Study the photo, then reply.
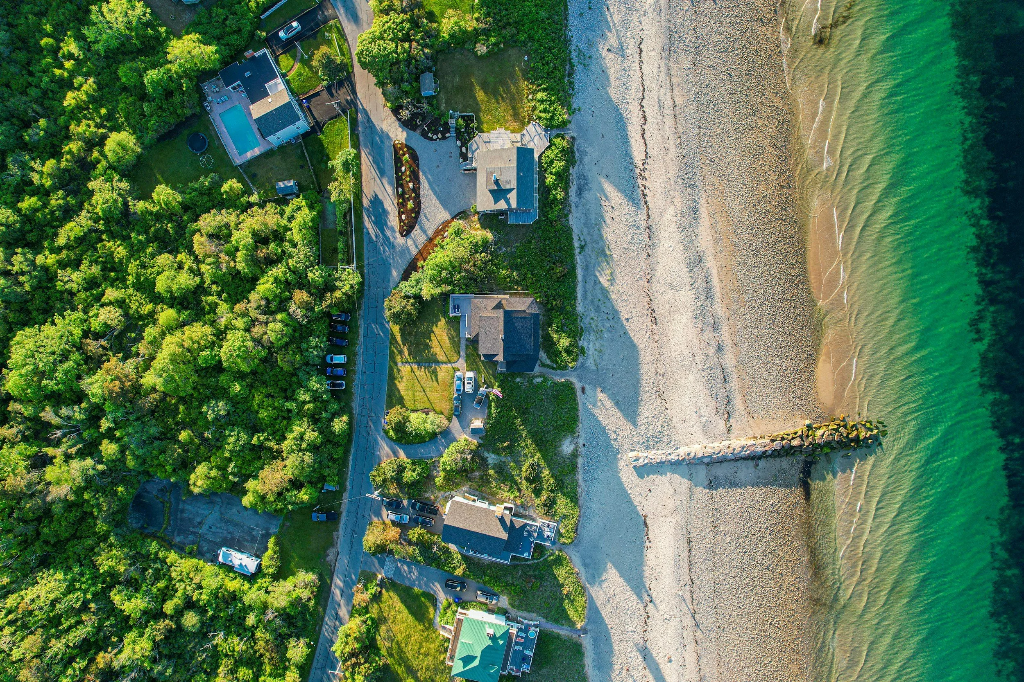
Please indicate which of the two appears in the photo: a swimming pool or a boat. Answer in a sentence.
I can see a swimming pool in this picture.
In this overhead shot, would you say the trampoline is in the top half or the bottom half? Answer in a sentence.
You can find the trampoline in the top half.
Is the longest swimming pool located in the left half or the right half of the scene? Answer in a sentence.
It is on the left.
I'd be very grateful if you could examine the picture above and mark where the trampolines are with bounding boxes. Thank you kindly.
[187,131,207,151]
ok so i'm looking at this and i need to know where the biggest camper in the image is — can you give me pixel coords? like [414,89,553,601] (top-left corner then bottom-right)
[216,546,263,576]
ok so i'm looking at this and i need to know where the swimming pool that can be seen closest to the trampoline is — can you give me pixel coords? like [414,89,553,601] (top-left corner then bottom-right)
[219,102,261,156]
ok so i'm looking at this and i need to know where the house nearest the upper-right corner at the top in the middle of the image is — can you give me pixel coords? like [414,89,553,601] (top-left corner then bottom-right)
[460,120,572,225]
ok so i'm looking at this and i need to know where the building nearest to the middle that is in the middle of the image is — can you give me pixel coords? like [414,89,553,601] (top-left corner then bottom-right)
[449,294,539,374]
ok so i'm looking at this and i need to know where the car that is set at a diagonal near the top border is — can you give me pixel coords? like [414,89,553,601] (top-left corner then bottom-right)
[278,21,302,39]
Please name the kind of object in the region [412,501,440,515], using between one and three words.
vehicle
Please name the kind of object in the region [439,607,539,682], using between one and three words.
building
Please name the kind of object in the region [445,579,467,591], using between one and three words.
vehicle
